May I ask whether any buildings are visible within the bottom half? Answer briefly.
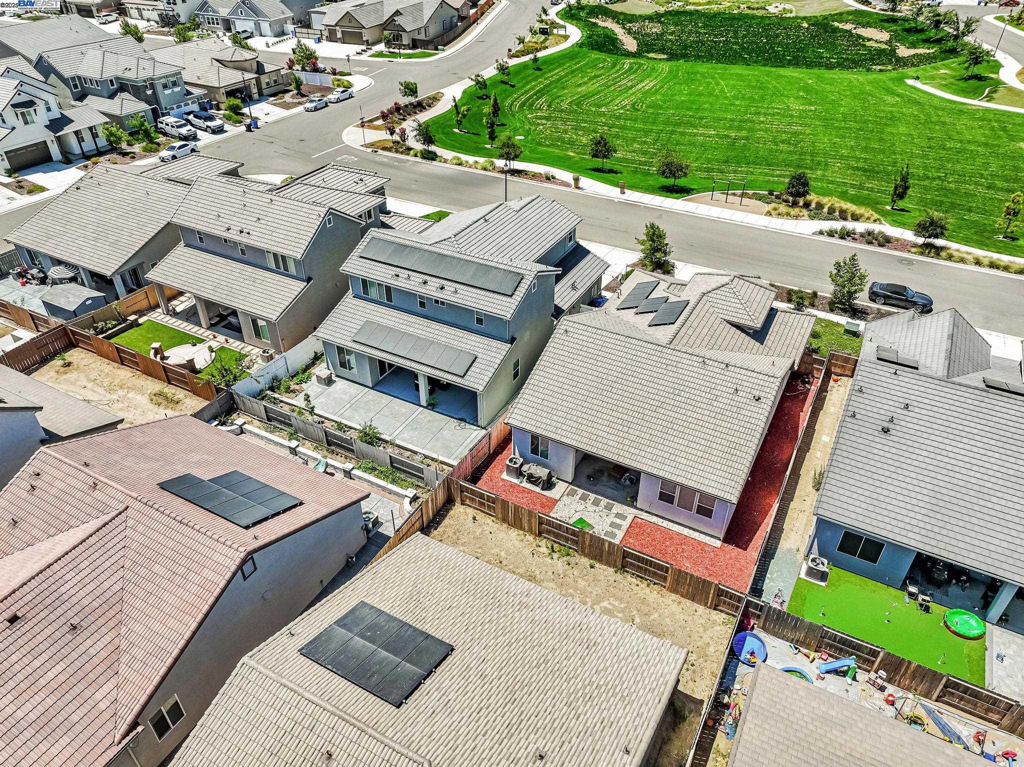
Yes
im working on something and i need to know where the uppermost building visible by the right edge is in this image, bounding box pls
[806,302,1024,624]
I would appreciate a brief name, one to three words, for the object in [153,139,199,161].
car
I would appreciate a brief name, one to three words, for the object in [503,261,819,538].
house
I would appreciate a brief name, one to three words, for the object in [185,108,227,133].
vehicle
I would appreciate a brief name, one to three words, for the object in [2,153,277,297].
house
